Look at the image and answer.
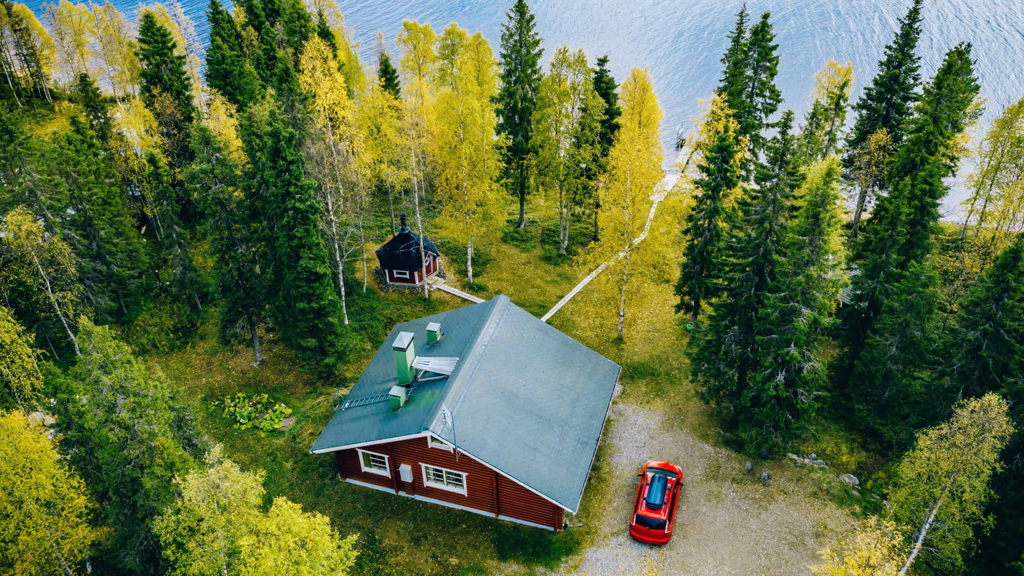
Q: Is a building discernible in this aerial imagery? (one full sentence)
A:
Yes, the picture does show a building.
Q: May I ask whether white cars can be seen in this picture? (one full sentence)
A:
No, the photo shows no white car.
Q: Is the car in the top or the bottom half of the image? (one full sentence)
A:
The car sits in the bottom half of the picture.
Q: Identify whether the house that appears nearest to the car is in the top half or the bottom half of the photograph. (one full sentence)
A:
The house that appears nearest to the car is in the bottom half of the image.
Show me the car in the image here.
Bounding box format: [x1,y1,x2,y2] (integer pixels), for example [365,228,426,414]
[630,461,683,546]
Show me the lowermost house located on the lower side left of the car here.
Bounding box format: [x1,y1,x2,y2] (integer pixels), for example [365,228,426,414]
[308,296,622,535]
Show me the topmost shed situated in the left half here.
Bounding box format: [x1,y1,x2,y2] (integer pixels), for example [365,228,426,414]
[376,213,441,287]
